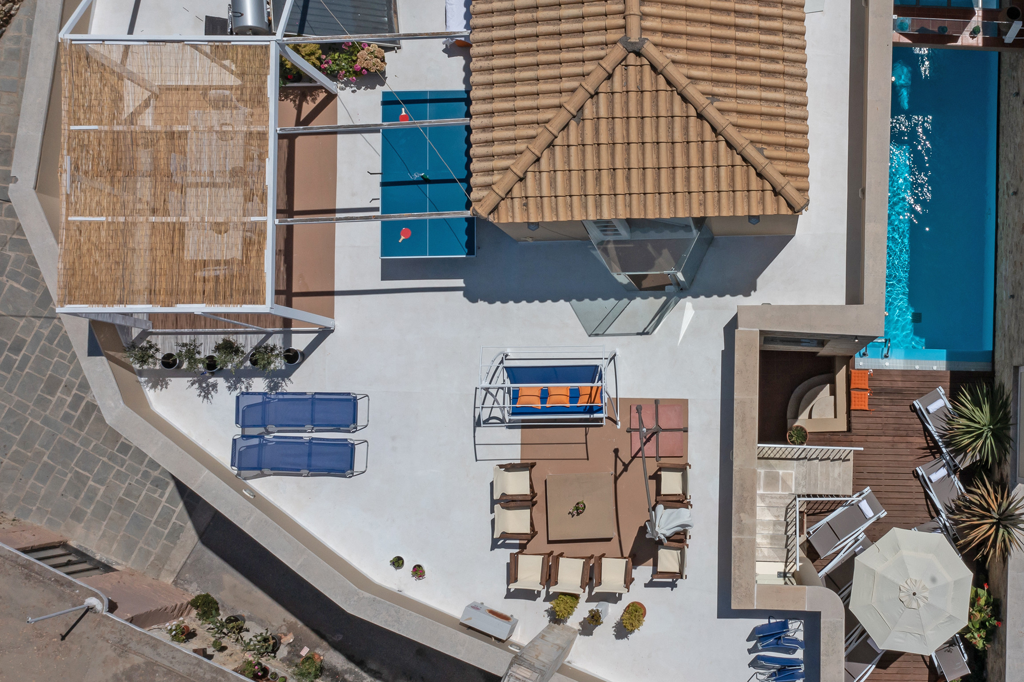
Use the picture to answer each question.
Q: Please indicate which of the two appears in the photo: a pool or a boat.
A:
pool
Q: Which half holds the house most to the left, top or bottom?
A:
bottom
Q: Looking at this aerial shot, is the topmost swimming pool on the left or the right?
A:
right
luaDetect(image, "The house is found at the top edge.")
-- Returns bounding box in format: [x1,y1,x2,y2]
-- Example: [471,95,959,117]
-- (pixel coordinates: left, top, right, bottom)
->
[464,0,814,238]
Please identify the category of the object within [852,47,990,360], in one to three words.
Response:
swimming pool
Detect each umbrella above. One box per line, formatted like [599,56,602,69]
[849,527,973,656]
[624,398,708,544]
